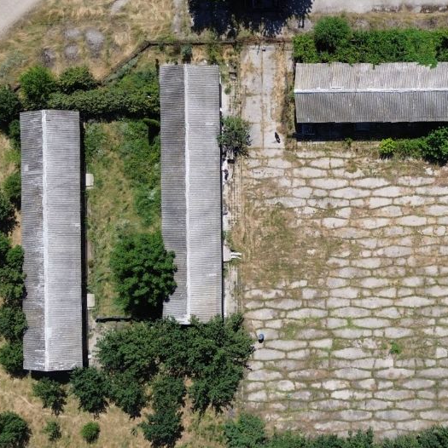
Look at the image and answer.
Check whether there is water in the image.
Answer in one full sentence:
No, the picture contains no water.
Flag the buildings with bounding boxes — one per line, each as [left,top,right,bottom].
[19,108,91,374]
[294,61,448,123]
[159,60,225,326]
